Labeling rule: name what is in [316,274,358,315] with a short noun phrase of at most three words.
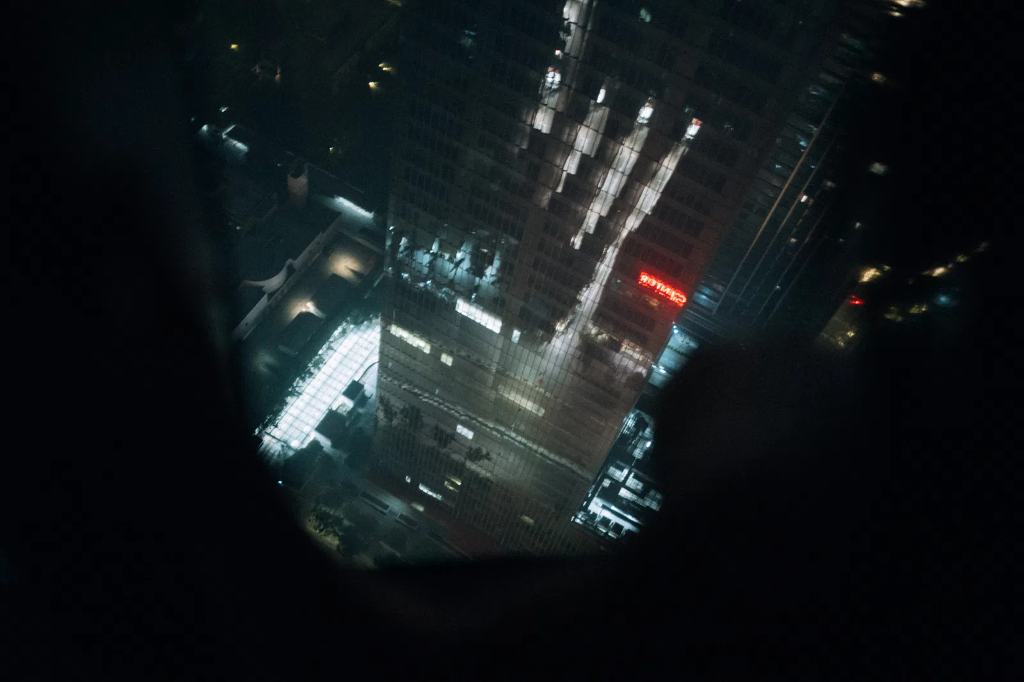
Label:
building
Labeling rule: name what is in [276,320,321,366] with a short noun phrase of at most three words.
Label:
building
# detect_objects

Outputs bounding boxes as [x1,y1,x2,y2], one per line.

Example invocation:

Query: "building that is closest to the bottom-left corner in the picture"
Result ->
[316,409,348,447]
